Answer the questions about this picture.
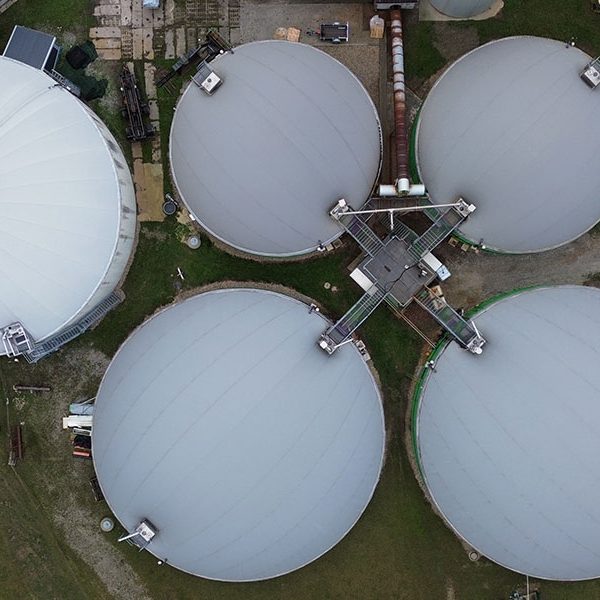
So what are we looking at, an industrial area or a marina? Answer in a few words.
industrial area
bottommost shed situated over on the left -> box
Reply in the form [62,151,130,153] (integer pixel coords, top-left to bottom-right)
[2,25,66,79]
